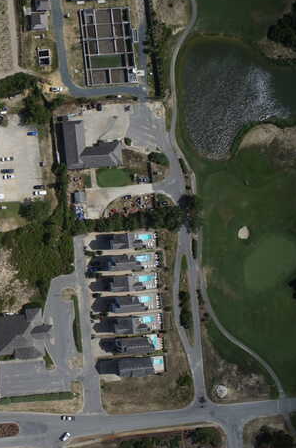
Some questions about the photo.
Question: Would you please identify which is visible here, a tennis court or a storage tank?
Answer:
storage tank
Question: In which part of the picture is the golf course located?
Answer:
right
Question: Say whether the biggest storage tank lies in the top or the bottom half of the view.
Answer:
top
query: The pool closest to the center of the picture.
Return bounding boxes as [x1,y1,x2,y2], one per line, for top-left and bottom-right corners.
[131,232,158,248]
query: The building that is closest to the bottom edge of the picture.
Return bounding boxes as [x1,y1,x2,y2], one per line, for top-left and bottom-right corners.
[108,354,157,378]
